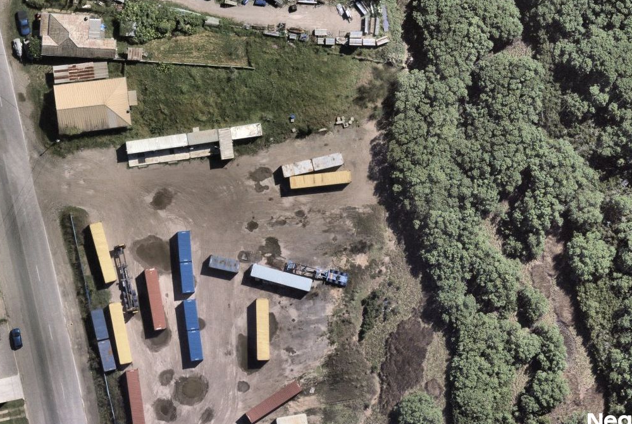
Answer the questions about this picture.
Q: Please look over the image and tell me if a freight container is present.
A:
Yes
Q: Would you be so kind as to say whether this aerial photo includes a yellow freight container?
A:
Yes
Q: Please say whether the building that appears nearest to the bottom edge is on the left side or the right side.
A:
left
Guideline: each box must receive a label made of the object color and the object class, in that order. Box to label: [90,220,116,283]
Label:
yellow shipping container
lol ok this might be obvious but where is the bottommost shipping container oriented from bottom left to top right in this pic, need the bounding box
[245,379,304,424]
